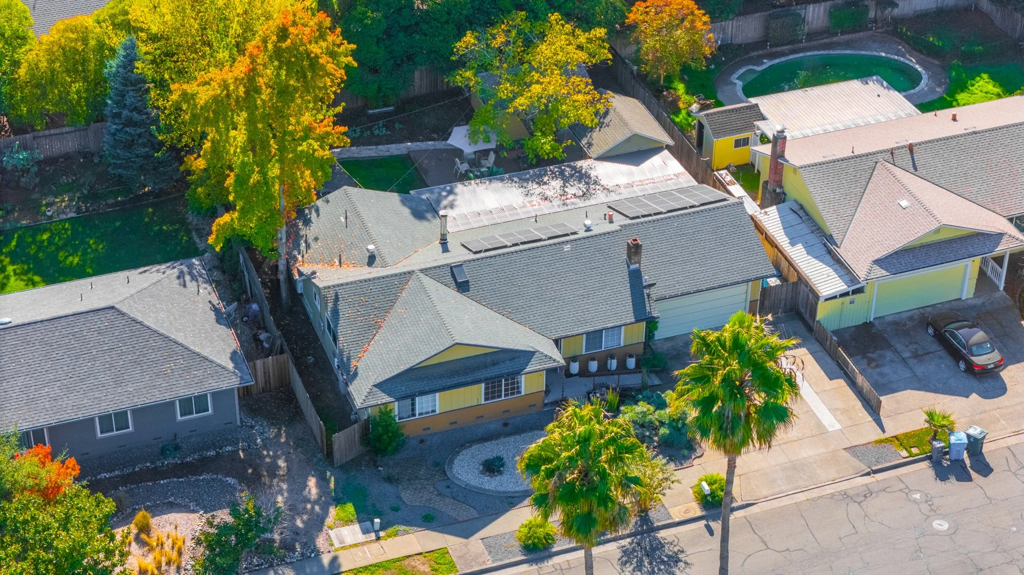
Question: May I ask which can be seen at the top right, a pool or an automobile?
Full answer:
Visible at the top right is a pool.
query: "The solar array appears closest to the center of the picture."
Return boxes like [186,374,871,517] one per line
[462,221,578,251]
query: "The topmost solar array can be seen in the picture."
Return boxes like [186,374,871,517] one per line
[605,184,731,216]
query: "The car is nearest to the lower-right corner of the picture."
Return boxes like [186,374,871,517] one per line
[927,310,1007,376]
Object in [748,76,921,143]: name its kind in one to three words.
building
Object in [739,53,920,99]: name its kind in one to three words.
swimming pool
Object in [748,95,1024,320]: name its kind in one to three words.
house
